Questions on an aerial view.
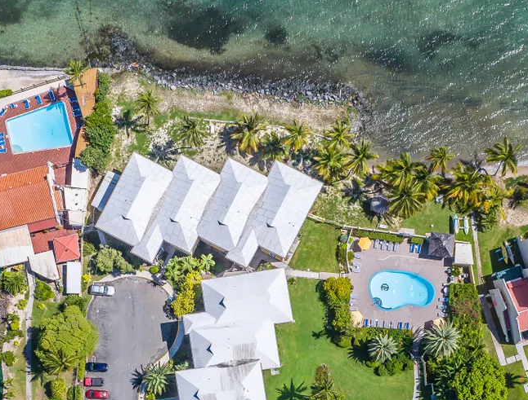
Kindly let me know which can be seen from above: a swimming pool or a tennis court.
swimming pool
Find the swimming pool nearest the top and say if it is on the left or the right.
left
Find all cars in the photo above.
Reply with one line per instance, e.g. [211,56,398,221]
[86,390,108,399]
[85,362,108,372]
[82,376,108,387]
[89,284,116,294]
